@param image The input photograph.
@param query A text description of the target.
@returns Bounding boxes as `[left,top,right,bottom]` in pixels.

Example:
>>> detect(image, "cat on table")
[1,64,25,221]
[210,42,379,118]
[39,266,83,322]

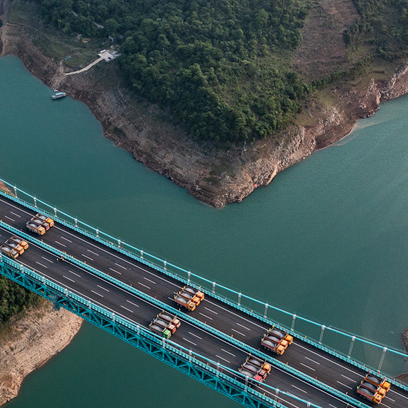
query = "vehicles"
[364,371,390,392]
[269,325,294,346]
[242,358,267,380]
[181,282,204,301]
[175,293,196,312]
[154,316,178,334]
[265,330,289,349]
[34,214,55,228]
[360,376,388,398]
[246,353,271,374]
[11,233,30,250]
[29,218,50,232]
[177,287,200,306]
[355,382,382,404]
[262,336,286,356]
[158,308,182,328]
[4,240,25,255]
[1,241,21,259]
[26,222,45,236]
[149,318,172,339]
